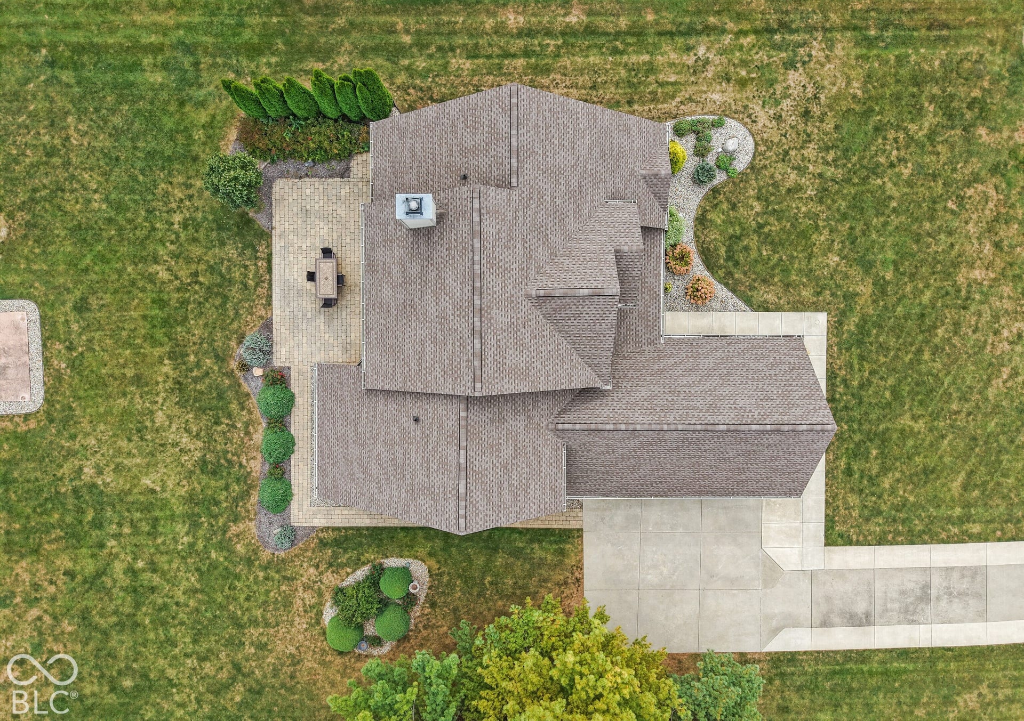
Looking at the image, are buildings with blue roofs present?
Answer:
No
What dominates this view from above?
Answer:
grass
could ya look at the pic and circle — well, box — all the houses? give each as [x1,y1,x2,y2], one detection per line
[313,81,836,535]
